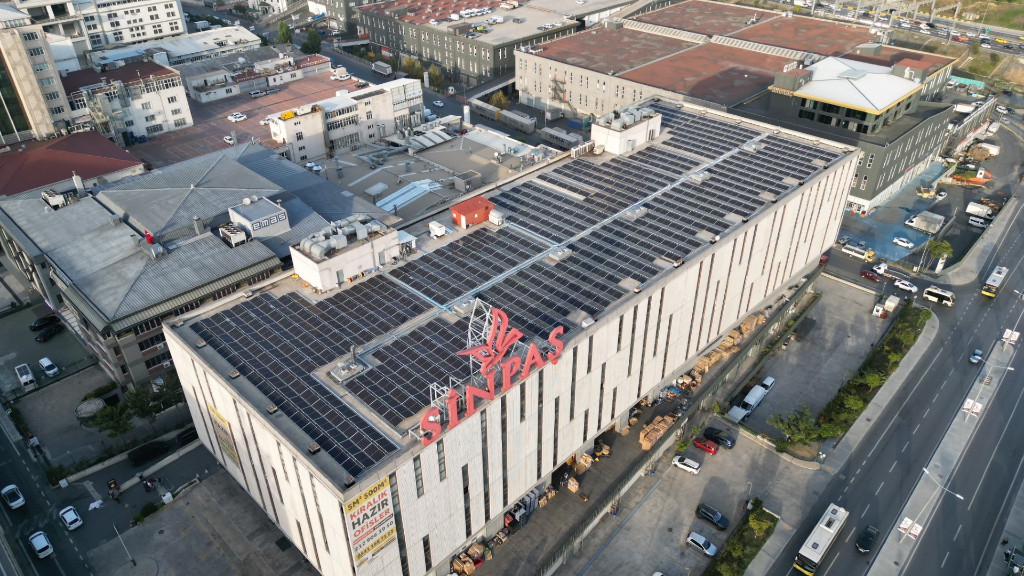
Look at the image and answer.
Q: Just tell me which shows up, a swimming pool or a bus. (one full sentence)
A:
I can see a bus in this picture.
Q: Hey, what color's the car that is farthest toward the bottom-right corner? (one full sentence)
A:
The car that is farthest toward the bottom-right corner looks black in the image.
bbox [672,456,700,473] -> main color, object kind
white car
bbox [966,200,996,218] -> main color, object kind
white vehicle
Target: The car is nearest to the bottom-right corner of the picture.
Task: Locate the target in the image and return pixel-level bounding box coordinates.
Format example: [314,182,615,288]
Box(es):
[856,521,885,552]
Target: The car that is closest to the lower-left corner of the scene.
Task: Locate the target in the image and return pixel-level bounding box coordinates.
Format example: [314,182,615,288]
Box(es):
[26,528,54,559]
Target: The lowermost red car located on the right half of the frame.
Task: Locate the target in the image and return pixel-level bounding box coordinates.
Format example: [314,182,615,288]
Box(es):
[693,437,718,454]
